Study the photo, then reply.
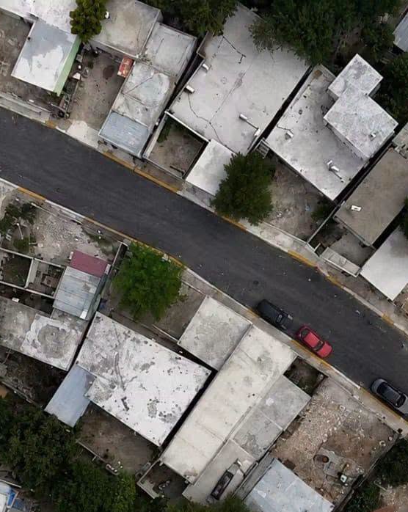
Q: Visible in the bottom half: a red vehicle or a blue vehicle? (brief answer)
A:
red vehicle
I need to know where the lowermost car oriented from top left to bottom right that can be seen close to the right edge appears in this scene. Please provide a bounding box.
[369,376,408,417]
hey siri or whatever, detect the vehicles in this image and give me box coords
[369,376,408,417]
[209,464,238,501]
[252,296,295,331]
[292,323,334,359]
